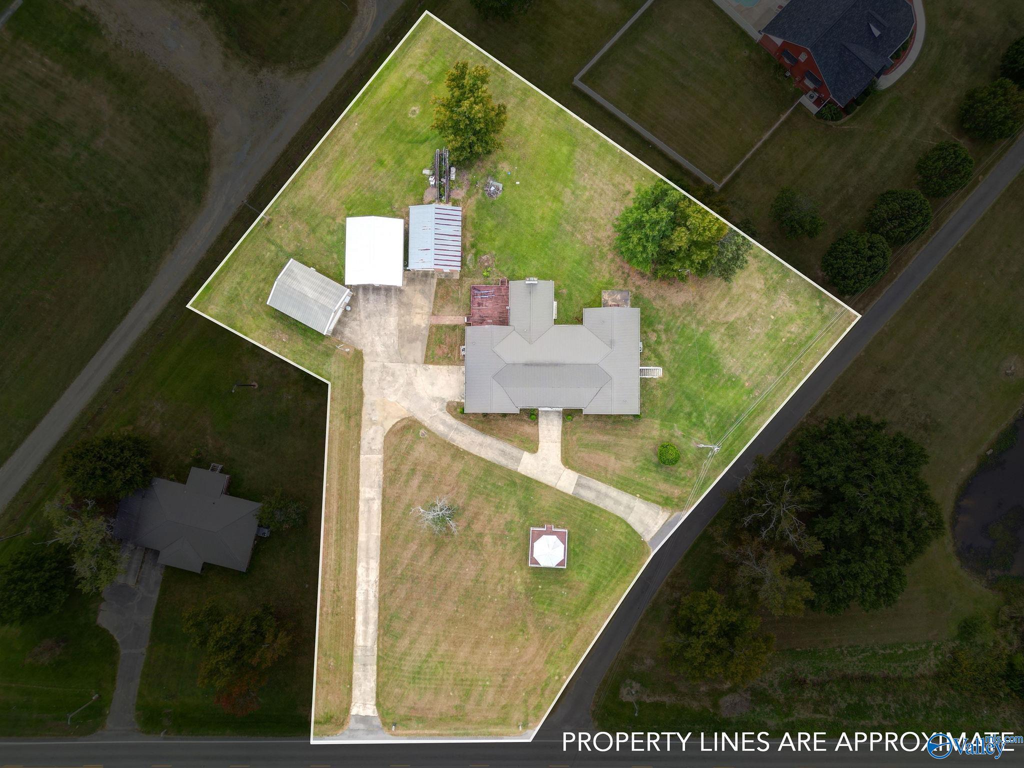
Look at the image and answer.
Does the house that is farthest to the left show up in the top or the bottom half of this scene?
bottom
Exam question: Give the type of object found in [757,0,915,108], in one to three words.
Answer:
house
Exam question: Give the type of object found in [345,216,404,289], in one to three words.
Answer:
building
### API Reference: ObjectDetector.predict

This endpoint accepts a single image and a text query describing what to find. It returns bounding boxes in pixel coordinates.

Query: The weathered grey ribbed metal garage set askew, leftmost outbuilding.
[266,258,352,335]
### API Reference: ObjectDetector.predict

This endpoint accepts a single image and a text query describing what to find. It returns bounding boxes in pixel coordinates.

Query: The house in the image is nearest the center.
[464,276,641,415]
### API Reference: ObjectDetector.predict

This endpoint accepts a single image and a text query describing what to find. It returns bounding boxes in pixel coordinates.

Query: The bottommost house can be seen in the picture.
[113,466,263,574]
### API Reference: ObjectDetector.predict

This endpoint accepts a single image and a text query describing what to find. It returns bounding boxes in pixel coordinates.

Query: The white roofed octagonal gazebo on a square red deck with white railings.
[529,523,568,570]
